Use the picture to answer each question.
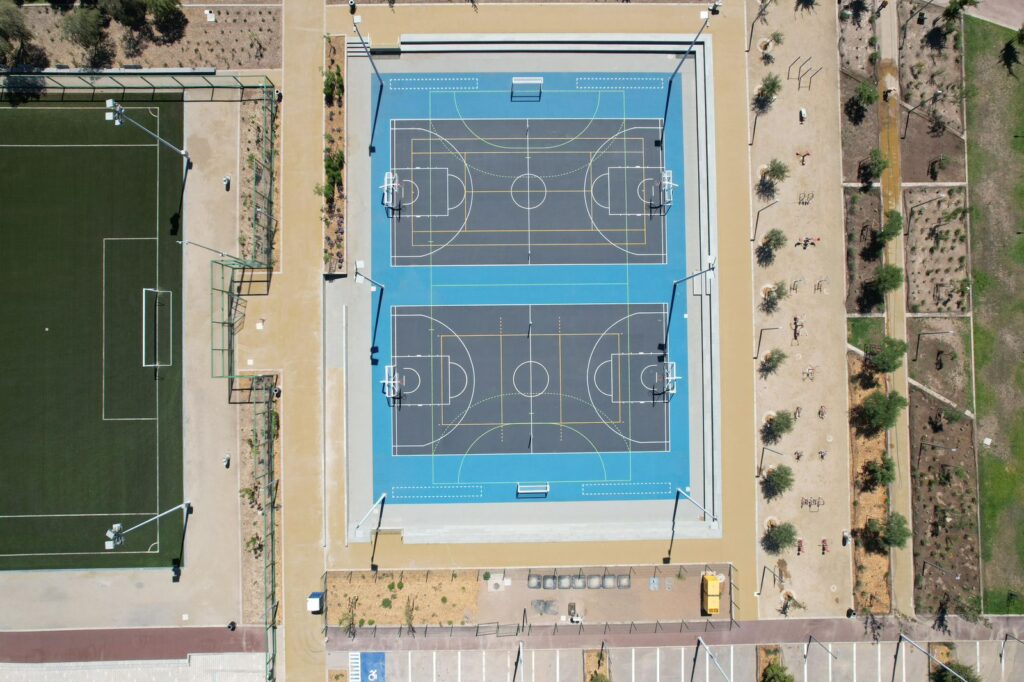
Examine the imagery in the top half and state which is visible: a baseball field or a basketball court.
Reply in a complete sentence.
You can see a basketball court in the top half.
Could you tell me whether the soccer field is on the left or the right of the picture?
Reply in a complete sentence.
The soccer field sits on the left side.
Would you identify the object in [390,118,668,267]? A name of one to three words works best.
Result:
basketball court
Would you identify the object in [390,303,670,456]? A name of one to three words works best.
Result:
basketball court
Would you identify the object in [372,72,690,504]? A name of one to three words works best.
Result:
sports court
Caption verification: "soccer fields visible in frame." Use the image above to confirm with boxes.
[0,92,183,569]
